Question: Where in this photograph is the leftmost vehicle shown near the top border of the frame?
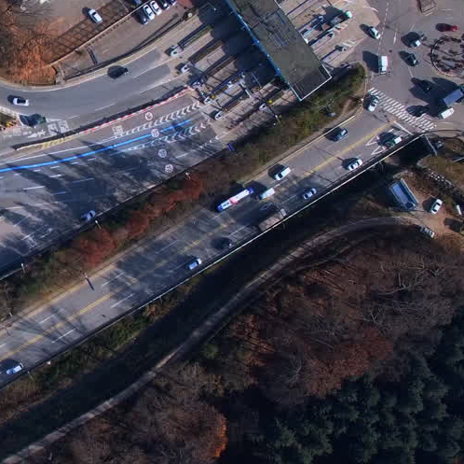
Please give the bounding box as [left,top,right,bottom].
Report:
[87,8,103,24]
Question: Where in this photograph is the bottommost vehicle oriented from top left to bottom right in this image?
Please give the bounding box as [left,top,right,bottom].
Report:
[419,224,437,239]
